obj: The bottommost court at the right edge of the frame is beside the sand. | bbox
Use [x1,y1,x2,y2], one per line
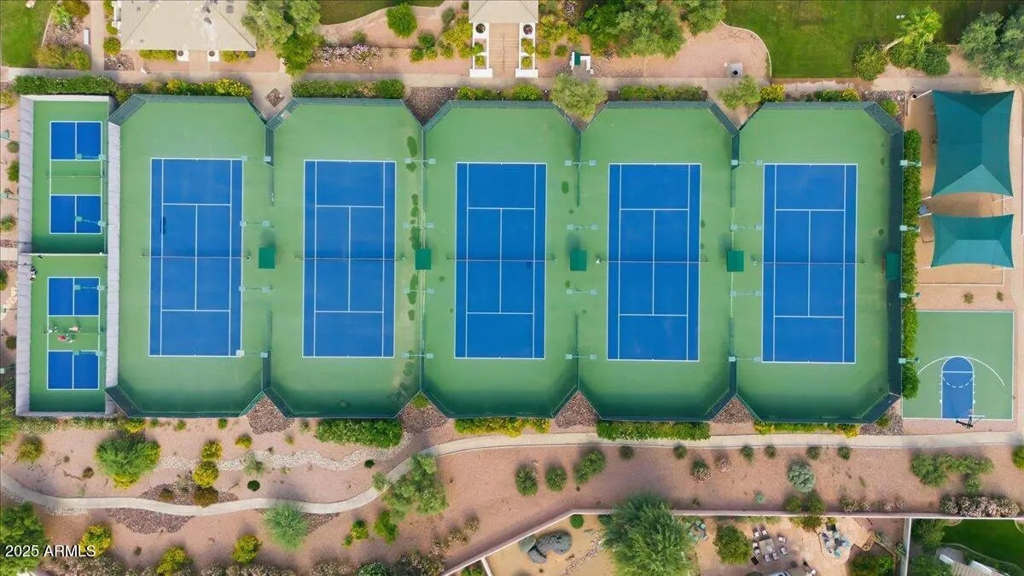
[903,311,1014,420]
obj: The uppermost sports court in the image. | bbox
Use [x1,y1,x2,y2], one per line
[31,101,109,254]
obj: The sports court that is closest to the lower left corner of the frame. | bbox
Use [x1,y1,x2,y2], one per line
[29,255,107,412]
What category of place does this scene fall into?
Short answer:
sports ground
